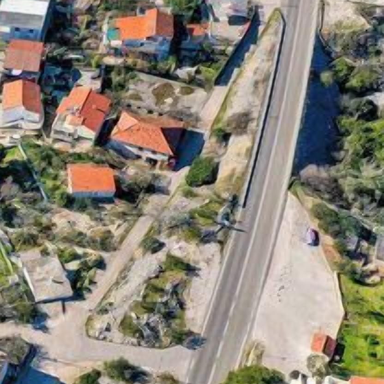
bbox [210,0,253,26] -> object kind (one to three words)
building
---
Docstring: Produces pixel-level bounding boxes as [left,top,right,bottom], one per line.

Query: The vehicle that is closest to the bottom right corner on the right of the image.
[306,228,319,248]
